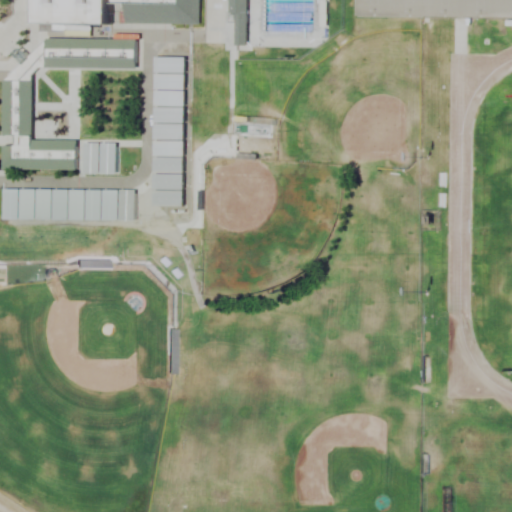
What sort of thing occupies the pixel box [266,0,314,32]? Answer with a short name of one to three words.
swimming pool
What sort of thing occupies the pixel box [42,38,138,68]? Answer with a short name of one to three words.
building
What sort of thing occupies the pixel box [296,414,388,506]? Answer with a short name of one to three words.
baseball field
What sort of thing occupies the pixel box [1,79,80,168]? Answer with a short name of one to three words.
building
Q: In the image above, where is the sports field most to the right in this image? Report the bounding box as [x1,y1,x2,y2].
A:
[474,72,512,380]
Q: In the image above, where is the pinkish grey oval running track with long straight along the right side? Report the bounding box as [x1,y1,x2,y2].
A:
[448,46,512,410]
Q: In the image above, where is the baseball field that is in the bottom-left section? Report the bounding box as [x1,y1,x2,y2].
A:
[0,266,174,512]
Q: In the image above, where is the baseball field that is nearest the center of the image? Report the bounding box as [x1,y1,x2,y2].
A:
[205,158,343,296]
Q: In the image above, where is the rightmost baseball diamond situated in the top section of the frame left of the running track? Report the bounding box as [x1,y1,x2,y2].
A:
[278,30,421,168]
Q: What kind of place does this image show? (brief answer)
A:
sports ground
